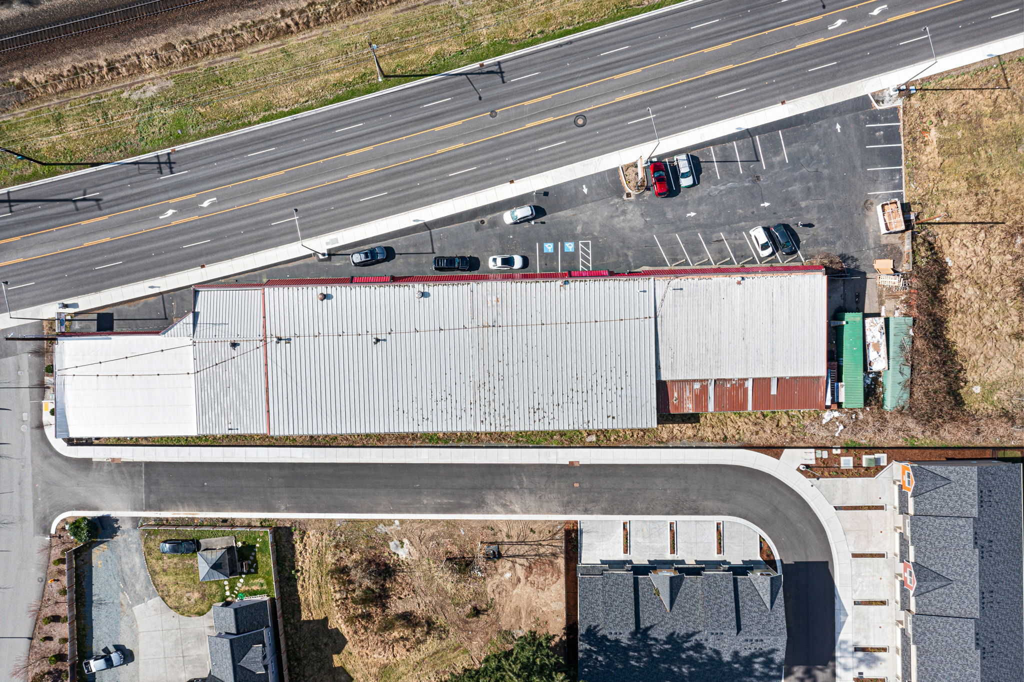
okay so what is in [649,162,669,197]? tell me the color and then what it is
red car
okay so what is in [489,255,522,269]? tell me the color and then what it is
white car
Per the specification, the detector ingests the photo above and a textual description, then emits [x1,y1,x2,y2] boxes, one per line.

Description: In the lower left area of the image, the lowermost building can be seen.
[207,591,282,682]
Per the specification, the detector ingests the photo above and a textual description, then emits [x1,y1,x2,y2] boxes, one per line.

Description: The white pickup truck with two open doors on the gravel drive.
[80,650,123,676]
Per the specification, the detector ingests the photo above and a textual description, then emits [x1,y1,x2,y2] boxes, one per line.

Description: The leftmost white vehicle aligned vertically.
[674,152,694,189]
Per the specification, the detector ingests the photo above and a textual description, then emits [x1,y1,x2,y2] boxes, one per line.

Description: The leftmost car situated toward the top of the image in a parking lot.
[349,245,384,265]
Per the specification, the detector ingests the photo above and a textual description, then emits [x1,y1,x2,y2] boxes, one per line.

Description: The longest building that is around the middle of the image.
[54,262,828,439]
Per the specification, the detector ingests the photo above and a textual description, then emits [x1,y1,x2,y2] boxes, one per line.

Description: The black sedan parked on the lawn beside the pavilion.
[160,540,195,556]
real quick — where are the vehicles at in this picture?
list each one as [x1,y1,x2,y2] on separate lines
[503,204,535,223]
[160,540,195,556]
[772,222,796,255]
[674,152,694,189]
[432,255,468,271]
[489,255,522,269]
[750,225,773,258]
[80,650,123,676]
[649,162,669,197]
[349,245,384,265]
